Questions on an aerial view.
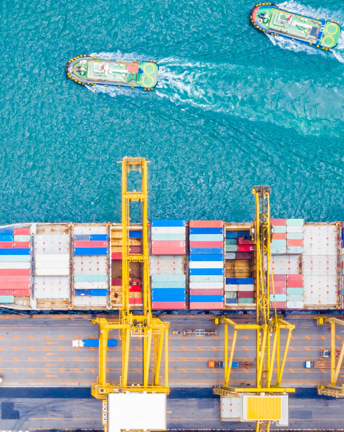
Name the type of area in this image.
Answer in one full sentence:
It's a port.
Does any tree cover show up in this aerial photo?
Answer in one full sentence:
No, there's no tree cover in this view.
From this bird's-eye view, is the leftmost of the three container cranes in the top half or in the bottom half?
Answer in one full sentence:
It is in the bottom half that the leftmost of the three container cranes appears.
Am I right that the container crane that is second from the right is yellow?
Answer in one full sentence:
Yes, yellow is the color of the container crane that is second from the right.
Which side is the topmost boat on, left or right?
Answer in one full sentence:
You can find the topmost boat on the right side of the picture.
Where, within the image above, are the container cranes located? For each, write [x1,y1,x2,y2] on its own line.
[308,318,344,392]
[82,156,173,432]
[202,185,294,432]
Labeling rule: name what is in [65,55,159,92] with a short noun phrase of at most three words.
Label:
boat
